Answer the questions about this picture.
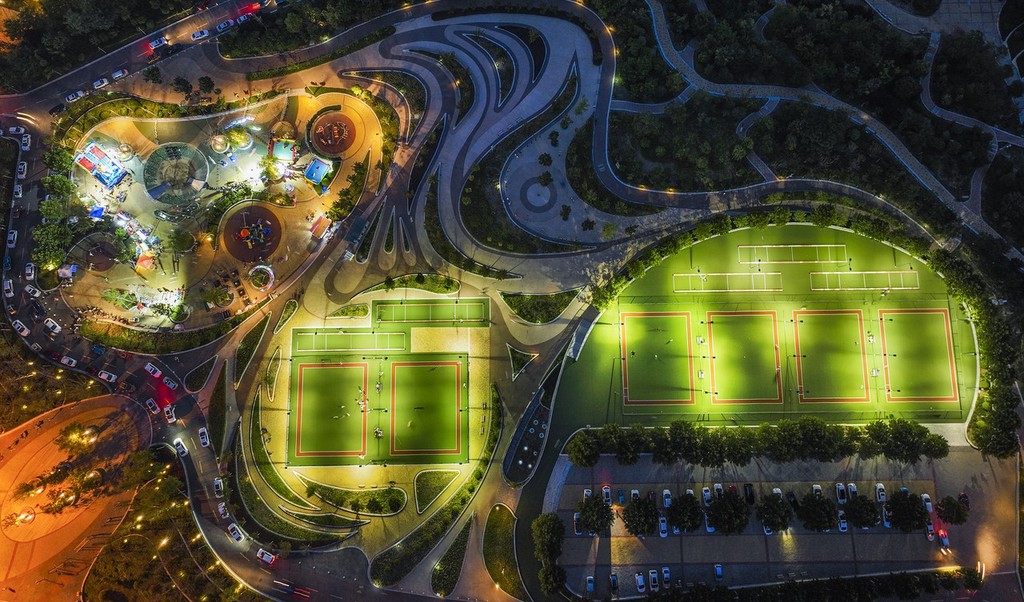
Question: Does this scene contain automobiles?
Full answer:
Yes, this view includes an automobile.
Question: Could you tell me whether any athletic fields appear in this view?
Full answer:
Yes, you can see an athletic field in this photo.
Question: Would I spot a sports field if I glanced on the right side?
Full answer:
Yes, a sports field is visible on the right side.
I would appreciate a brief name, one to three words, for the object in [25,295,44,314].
vehicle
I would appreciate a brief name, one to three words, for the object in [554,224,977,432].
sports field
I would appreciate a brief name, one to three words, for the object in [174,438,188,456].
car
